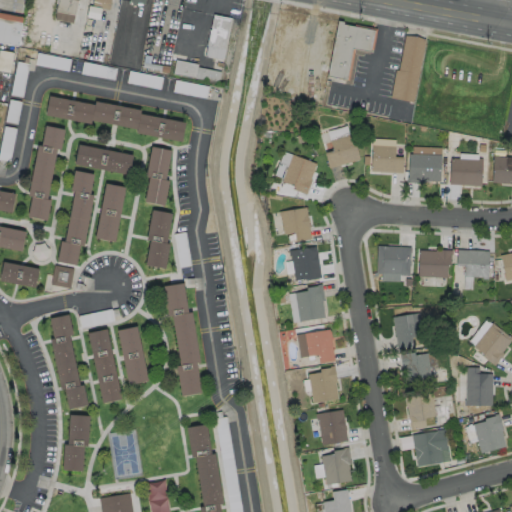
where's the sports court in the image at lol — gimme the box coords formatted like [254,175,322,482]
[110,430,142,480]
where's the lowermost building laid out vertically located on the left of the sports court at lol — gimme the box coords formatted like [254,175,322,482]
[64,415,90,472]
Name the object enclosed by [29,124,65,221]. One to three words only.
building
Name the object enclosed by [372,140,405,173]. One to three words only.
house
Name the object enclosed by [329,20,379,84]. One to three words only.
building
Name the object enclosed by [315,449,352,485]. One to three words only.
house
